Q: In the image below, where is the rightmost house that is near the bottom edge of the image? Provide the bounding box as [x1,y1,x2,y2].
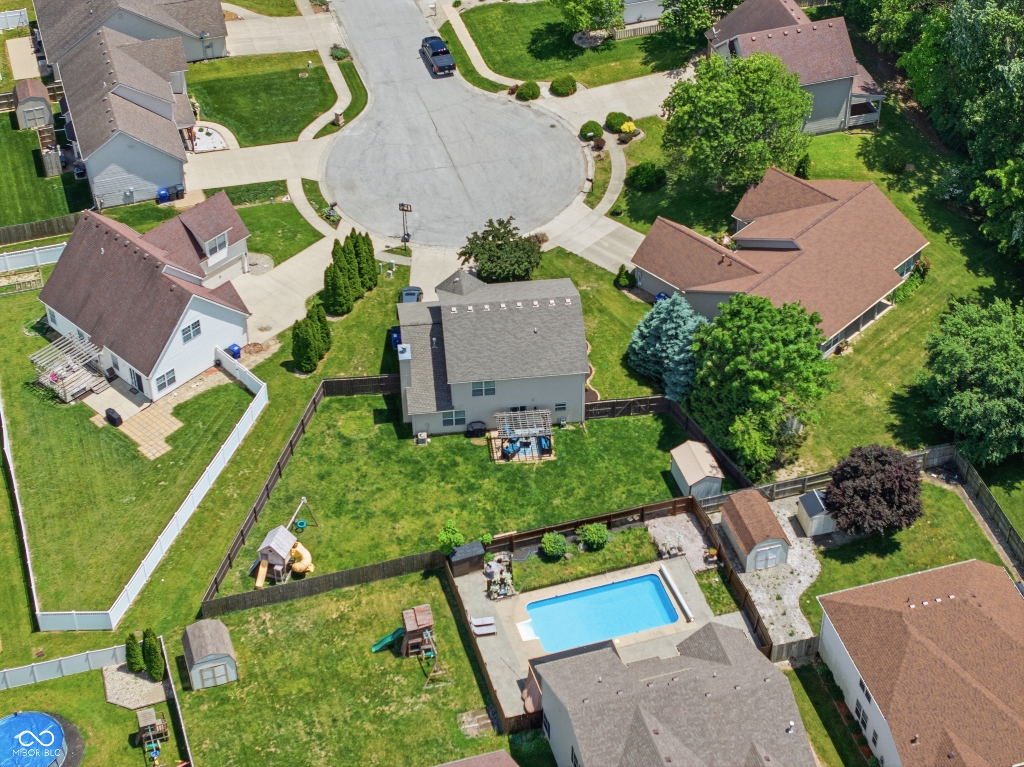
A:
[816,559,1024,767]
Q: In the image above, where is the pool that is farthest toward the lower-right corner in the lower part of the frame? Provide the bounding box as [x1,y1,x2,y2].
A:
[516,573,679,653]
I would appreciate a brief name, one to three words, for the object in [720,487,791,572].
shed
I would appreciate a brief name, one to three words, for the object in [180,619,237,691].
shed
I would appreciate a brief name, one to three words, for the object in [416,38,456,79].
truck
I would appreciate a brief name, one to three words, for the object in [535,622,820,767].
house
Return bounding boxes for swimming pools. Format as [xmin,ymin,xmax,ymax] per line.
[0,720,70,767]
[516,573,679,653]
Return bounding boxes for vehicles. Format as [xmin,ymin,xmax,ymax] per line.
[396,285,424,325]
[416,38,456,79]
